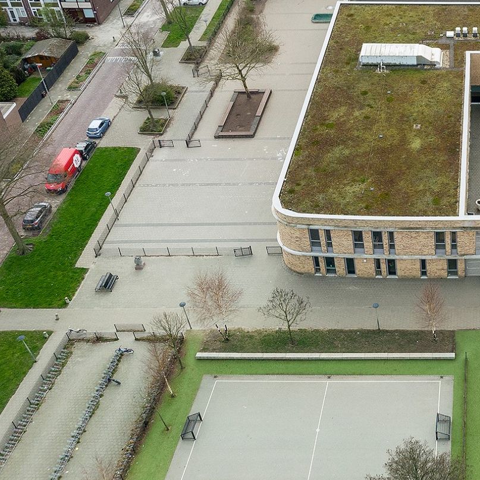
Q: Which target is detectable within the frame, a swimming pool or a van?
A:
van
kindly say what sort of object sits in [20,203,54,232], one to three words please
car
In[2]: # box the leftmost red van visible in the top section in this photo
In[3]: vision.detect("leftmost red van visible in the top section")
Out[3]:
[46,148,85,193]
